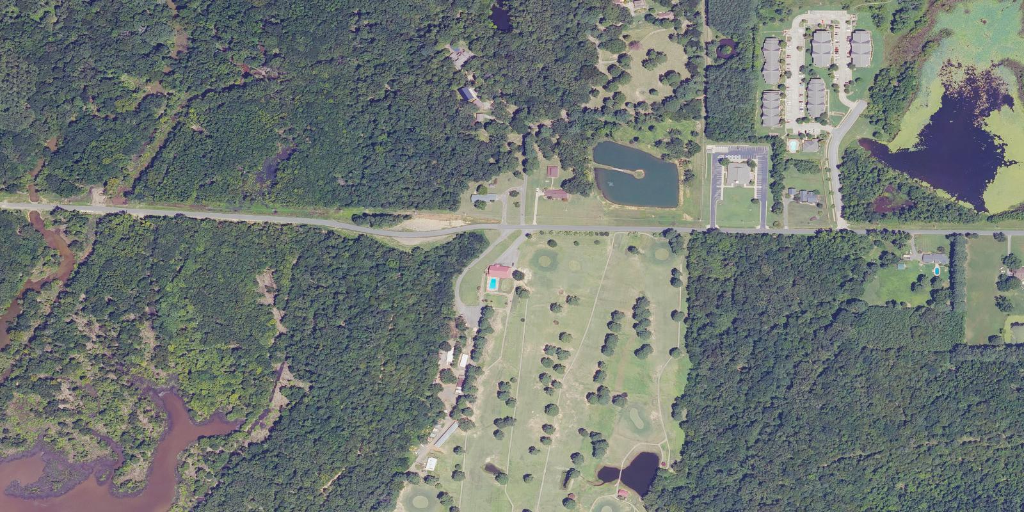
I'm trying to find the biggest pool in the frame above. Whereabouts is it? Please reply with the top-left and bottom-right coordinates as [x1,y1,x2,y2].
[487,277,499,292]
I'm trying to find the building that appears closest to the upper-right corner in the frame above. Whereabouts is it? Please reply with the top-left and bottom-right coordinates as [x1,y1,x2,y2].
[852,29,872,68]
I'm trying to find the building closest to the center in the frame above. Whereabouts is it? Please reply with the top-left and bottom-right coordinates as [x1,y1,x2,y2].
[488,263,512,278]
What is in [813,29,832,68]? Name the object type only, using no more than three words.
building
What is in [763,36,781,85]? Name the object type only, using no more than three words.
building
